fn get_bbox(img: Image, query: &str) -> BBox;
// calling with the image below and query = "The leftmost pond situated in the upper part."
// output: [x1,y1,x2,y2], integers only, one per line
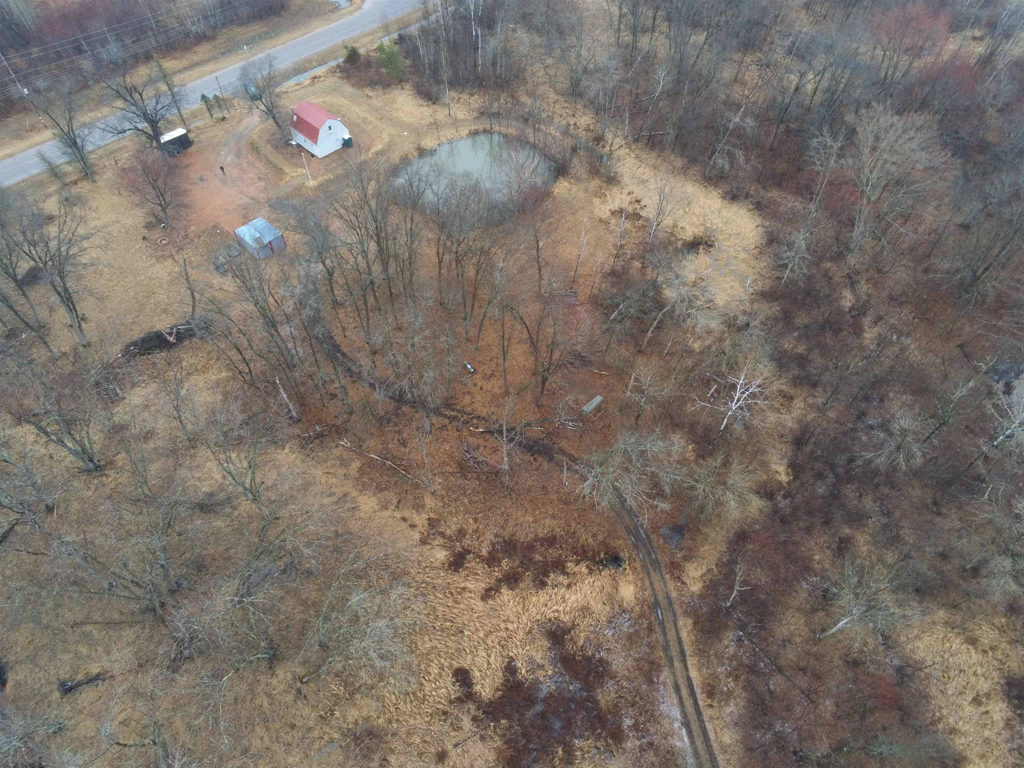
[392,133,555,221]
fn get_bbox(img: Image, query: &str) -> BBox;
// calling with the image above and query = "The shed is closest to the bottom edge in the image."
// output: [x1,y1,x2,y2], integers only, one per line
[237,218,286,260]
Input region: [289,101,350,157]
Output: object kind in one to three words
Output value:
house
